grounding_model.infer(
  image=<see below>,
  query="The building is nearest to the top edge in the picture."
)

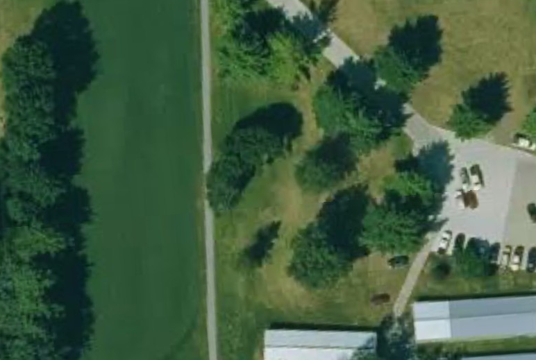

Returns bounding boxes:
[412,292,536,342]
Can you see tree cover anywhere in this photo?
Yes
